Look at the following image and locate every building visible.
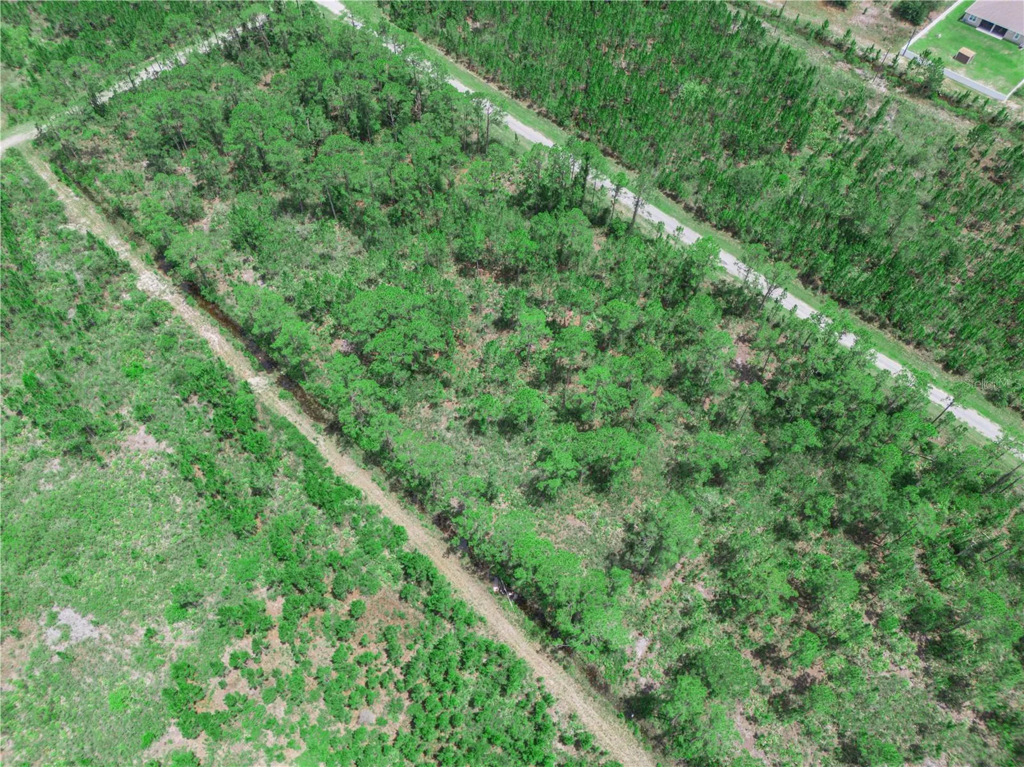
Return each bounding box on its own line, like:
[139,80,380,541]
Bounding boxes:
[963,0,1024,44]
[958,44,978,63]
